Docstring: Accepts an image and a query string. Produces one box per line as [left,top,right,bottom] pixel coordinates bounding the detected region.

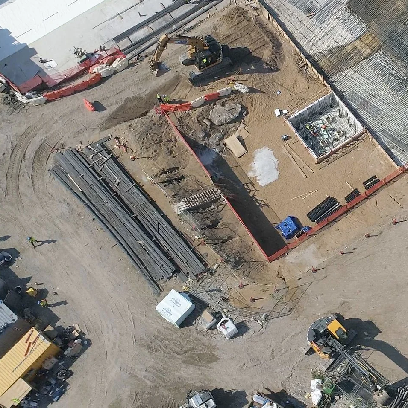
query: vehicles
[302,310,397,408]
[149,26,233,79]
